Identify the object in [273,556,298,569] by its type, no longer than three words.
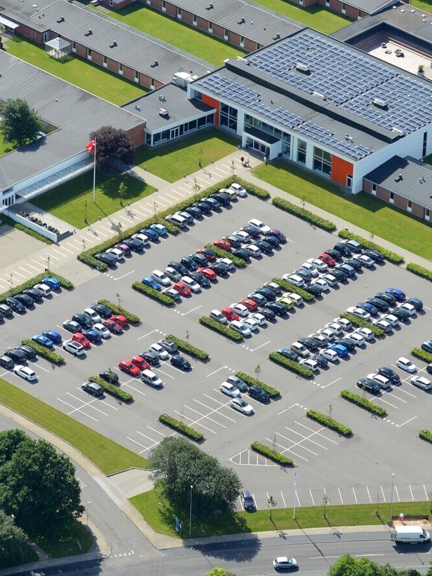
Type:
vehicle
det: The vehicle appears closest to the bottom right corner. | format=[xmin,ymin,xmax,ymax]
[389,526,431,545]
